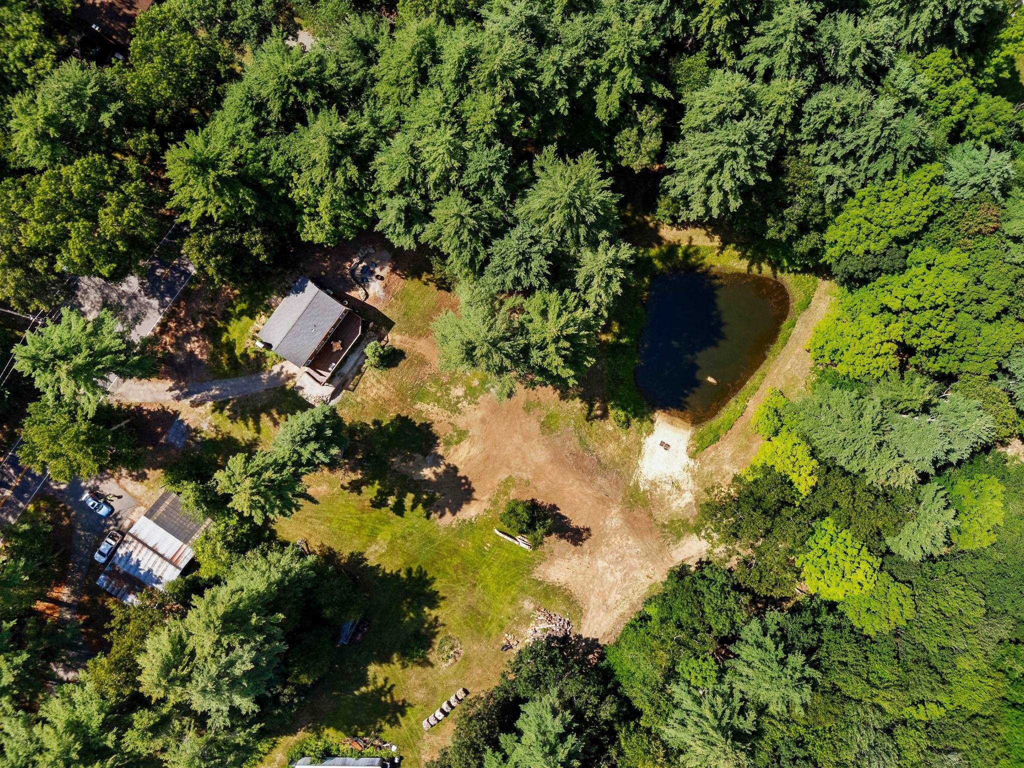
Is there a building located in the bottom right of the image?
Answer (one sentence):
No, the scene shows no building in the bottom right of the image.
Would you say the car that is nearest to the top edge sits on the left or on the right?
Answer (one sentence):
You can find the car that is nearest to the top edge on the left side of the picture.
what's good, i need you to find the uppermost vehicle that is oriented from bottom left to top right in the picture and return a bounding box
[96,528,124,561]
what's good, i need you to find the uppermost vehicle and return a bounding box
[85,493,114,516]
